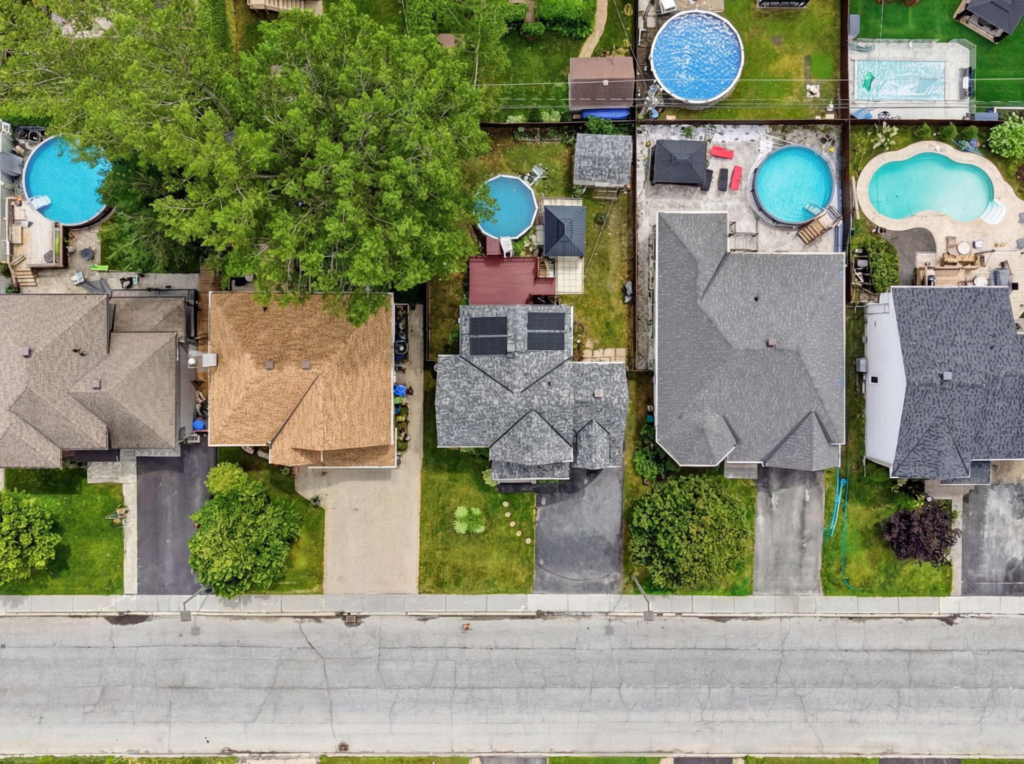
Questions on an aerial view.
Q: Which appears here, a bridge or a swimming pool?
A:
swimming pool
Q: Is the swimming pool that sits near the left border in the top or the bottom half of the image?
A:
top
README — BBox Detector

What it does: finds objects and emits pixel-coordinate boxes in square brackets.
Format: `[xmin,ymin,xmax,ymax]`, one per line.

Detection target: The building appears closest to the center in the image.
[435,304,629,484]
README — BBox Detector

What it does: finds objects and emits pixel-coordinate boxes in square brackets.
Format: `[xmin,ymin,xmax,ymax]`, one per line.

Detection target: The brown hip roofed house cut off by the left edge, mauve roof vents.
[0,289,208,469]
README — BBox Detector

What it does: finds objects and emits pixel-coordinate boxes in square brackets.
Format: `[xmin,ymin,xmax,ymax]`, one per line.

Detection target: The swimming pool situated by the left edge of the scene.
[22,137,122,227]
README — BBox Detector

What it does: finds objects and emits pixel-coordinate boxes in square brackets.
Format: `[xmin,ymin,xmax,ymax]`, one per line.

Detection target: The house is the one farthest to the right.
[858,285,1024,485]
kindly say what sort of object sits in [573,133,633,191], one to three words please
shed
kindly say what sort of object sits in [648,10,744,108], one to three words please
swimming pool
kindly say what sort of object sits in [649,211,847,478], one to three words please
house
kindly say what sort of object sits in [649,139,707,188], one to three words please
gazebo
